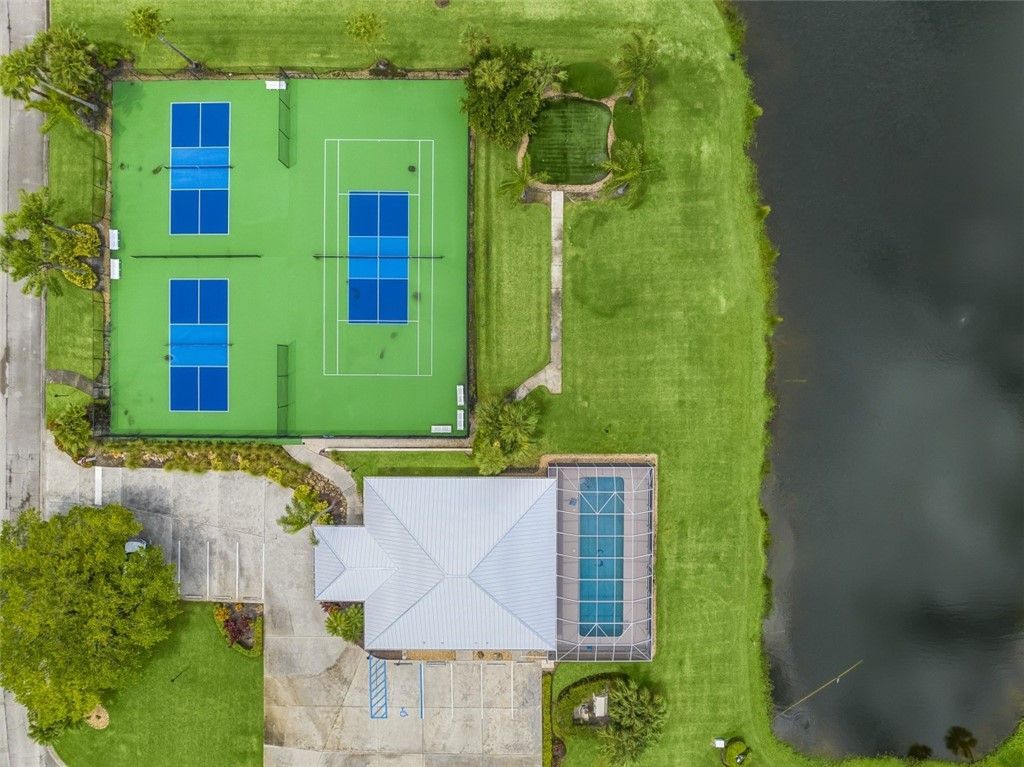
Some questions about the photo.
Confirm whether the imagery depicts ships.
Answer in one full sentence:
No, I can't see a single ship in this photo.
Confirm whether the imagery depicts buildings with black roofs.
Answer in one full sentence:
No, no building with a black roof can be seen from above.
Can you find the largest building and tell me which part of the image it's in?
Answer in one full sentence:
The largest building is in the bottom part of the image.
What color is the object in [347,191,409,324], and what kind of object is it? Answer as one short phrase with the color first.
blue sports court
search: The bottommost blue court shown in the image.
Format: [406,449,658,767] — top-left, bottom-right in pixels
[168,279,229,412]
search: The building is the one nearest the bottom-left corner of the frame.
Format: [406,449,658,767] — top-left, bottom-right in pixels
[314,476,557,652]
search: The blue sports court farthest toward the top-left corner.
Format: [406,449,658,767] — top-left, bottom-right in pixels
[170,102,231,235]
